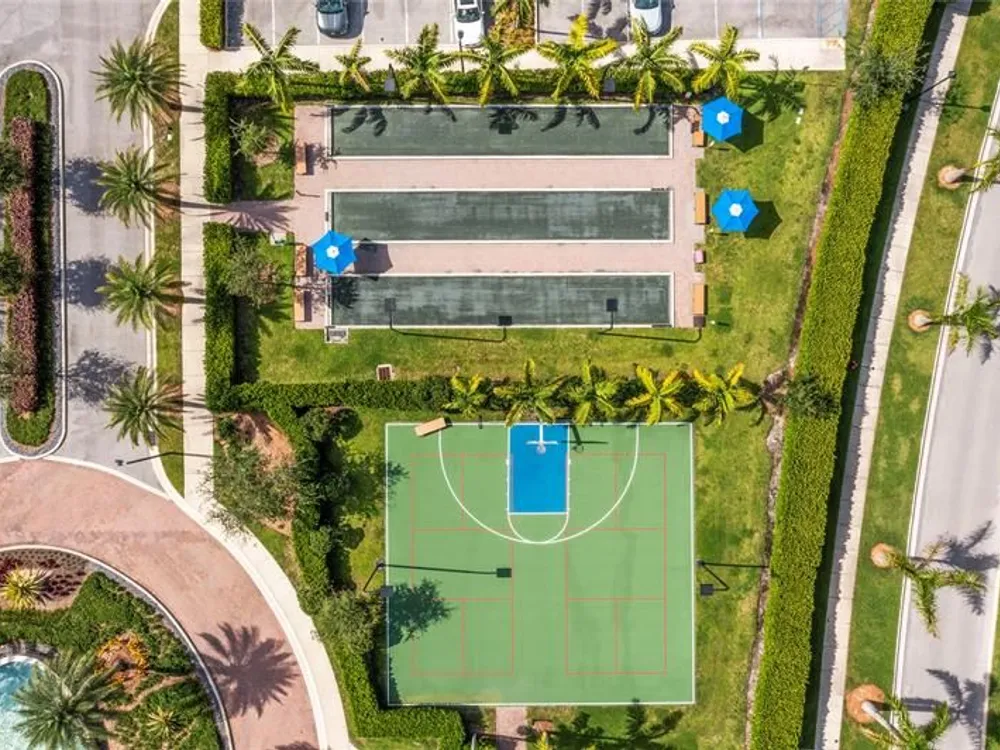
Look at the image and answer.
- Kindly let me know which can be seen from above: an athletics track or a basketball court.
basketball court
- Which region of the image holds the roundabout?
bottom left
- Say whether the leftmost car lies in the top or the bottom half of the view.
top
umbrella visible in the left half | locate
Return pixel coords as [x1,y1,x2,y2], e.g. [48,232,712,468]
[313,230,356,276]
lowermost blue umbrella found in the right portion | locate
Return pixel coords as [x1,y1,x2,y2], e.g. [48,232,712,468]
[711,191,757,232]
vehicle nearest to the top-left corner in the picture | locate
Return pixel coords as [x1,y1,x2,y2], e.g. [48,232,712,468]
[312,0,350,37]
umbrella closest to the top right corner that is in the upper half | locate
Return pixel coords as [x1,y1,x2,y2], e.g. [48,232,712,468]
[700,98,740,145]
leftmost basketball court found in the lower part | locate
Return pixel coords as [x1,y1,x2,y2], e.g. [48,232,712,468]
[387,424,693,705]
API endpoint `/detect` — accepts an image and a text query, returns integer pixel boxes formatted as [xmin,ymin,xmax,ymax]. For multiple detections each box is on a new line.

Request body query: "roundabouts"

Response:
[0,449,329,750]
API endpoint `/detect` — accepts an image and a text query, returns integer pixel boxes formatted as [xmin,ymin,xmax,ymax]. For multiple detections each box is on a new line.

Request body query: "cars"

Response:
[312,0,350,37]
[628,0,665,34]
[451,0,489,49]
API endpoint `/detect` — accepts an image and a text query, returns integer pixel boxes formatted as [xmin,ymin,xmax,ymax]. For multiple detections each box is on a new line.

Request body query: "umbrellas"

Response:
[711,191,757,232]
[313,230,356,276]
[700,98,740,145]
